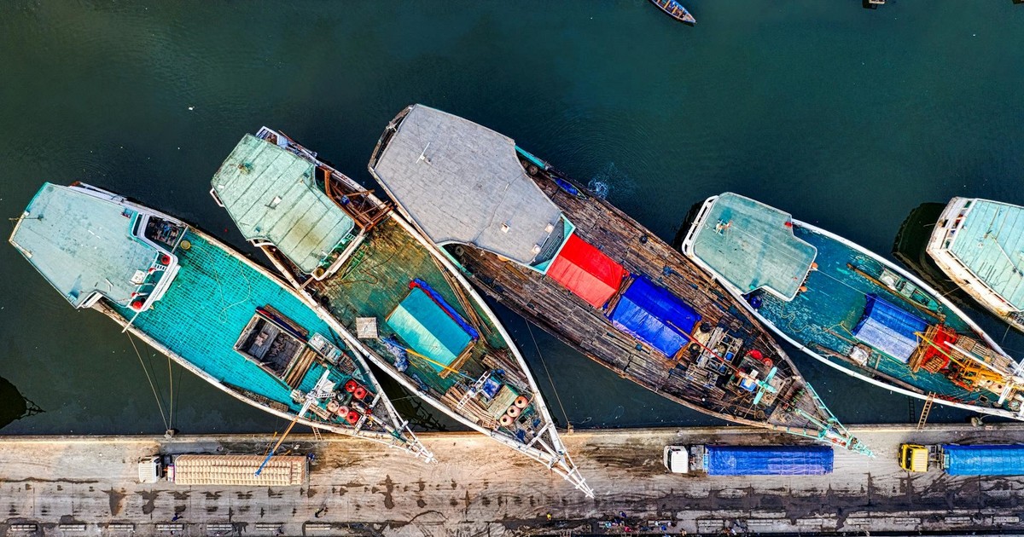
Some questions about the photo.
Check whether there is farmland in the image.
No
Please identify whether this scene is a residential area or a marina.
marina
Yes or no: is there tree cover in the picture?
No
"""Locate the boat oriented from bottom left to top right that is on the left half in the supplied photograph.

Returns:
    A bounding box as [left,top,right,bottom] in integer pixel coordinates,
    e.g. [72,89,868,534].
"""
[340,244,368,279]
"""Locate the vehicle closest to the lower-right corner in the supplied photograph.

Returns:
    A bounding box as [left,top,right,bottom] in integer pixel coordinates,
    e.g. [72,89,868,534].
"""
[894,437,1024,475]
